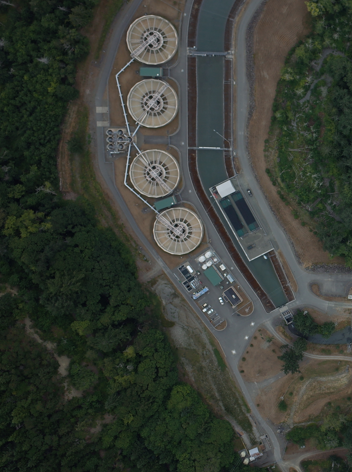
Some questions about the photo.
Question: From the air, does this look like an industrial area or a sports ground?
industrial area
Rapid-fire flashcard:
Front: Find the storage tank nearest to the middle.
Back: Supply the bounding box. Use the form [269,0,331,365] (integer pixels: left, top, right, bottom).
[153,206,205,256]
